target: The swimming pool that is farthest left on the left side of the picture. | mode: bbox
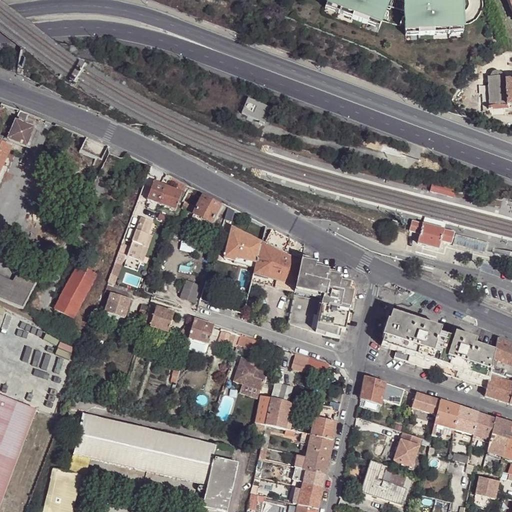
[122,272,141,289]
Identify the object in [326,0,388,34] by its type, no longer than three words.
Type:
building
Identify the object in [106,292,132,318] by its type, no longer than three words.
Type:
house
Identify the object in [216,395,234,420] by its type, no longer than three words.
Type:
swimming pool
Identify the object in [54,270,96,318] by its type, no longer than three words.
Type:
barn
